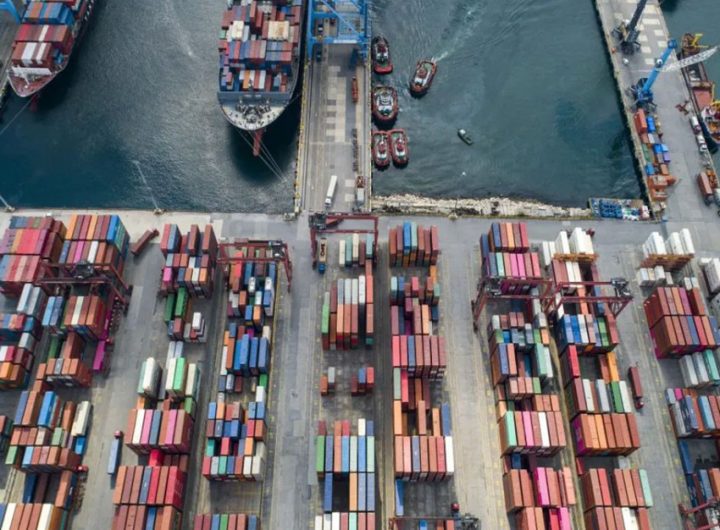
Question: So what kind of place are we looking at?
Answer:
port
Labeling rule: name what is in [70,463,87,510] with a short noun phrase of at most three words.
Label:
vehicle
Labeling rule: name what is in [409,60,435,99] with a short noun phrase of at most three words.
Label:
boat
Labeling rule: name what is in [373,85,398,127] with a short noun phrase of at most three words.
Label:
boat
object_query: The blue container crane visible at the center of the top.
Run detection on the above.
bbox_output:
[304,0,371,63]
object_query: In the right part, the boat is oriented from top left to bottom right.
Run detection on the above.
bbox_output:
[457,130,472,145]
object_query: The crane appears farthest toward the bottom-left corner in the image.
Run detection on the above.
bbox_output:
[35,260,131,316]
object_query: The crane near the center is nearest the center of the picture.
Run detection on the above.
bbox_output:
[311,212,382,268]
